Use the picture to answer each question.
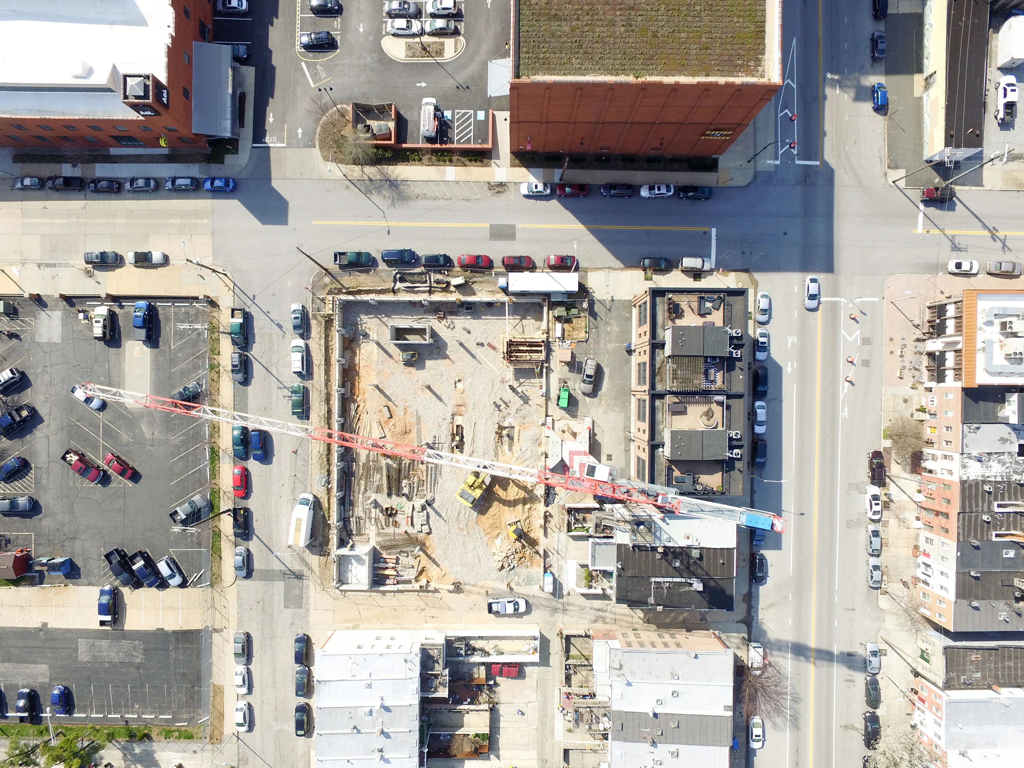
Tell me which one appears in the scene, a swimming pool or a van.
van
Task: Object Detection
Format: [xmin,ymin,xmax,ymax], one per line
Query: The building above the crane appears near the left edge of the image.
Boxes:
[0,0,211,148]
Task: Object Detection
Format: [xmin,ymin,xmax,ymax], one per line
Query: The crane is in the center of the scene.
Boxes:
[67,378,785,540]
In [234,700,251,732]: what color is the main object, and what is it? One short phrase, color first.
white car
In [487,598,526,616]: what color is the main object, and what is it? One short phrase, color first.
white vehicle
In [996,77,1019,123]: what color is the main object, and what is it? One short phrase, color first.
white truck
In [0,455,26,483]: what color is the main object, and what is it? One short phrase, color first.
blue car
